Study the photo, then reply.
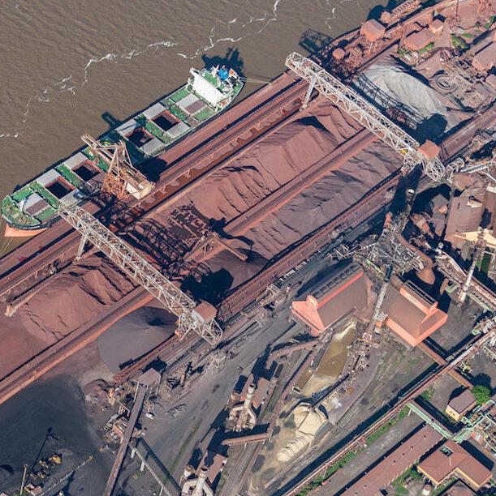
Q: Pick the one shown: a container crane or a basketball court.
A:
container crane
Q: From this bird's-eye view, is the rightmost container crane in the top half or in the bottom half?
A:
top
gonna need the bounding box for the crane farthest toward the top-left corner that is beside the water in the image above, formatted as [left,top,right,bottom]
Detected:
[77,133,151,204]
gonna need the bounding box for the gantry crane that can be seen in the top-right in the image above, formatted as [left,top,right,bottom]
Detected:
[282,52,445,193]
